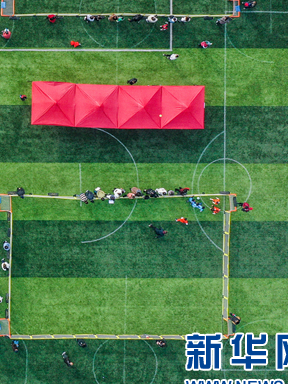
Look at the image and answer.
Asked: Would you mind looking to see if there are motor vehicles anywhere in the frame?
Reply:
No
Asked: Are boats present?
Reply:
No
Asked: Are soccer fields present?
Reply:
Yes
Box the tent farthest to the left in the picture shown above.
[26,82,75,127]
